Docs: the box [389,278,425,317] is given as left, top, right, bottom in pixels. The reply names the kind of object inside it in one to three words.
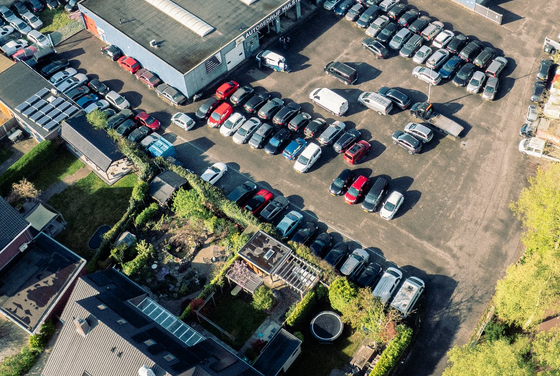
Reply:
van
